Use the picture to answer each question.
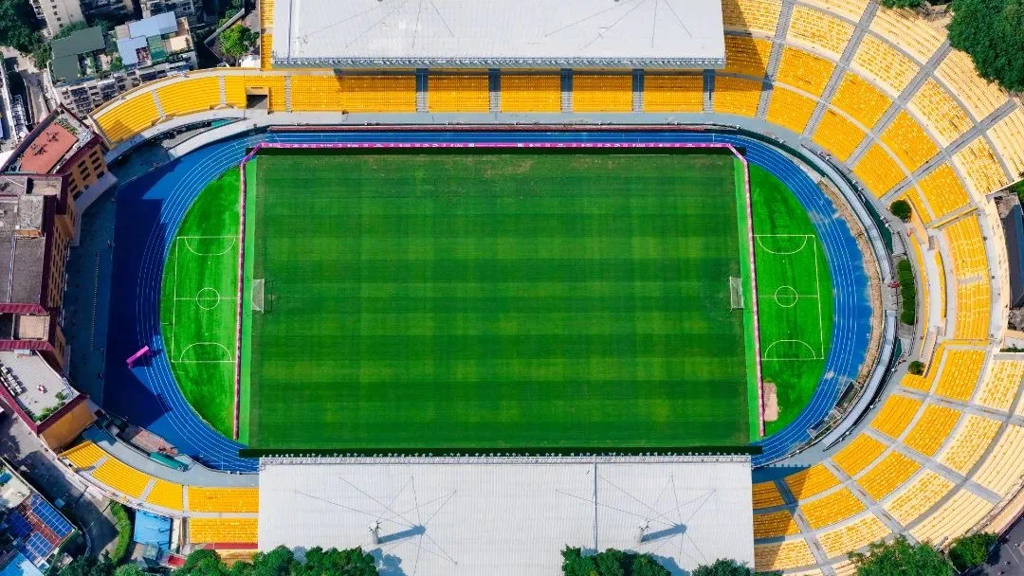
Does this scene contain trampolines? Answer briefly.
No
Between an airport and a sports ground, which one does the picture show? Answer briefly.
sports ground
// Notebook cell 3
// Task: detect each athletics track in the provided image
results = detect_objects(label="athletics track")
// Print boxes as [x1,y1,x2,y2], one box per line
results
[103,126,883,475]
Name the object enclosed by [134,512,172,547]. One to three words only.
shed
